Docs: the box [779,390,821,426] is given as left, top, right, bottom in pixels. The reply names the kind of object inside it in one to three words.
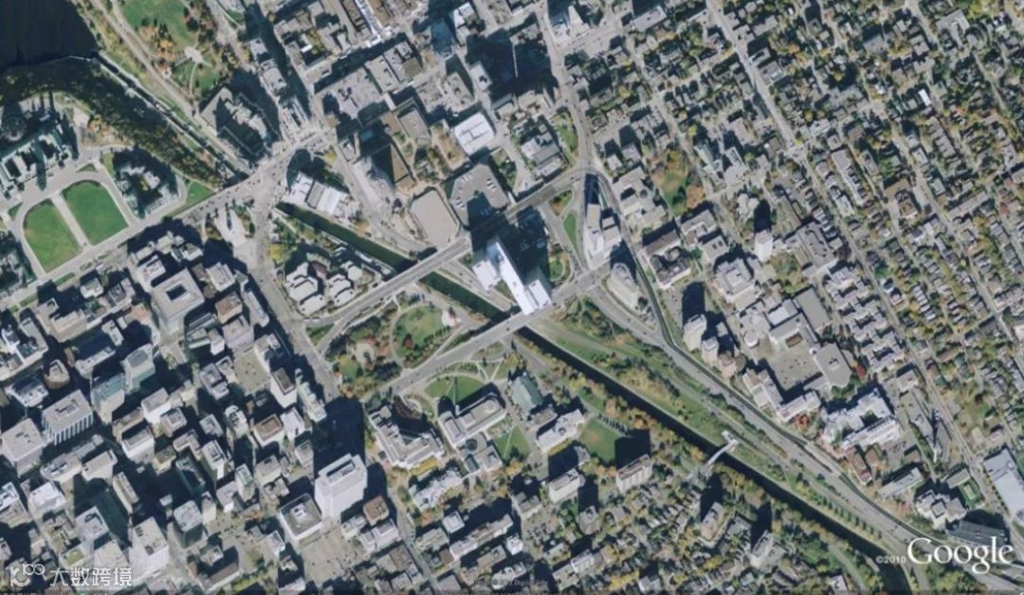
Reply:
building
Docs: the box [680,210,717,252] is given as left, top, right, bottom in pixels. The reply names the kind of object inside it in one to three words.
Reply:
building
